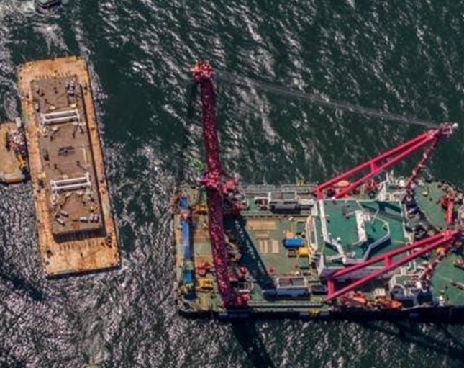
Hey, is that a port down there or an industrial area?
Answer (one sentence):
It's a port.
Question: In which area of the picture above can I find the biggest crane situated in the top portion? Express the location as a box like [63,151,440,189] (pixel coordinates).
[165,56,460,222]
